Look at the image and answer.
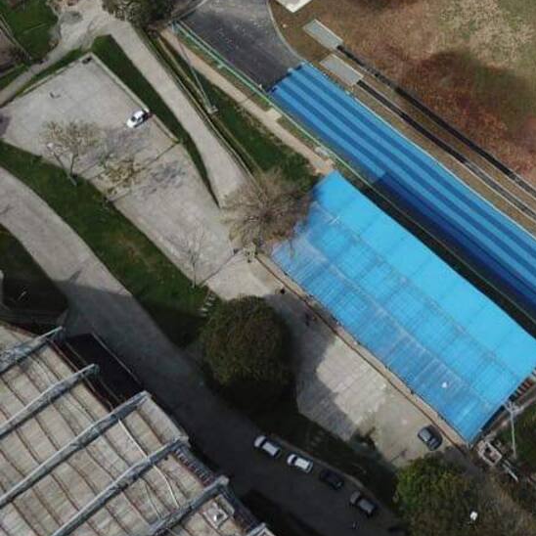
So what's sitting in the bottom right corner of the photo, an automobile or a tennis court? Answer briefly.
automobile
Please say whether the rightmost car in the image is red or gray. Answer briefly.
gray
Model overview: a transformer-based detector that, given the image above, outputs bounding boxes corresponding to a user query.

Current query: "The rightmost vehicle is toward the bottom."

[417,426,442,450]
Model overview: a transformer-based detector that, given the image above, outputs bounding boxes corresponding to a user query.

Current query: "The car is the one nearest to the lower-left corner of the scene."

[252,435,283,459]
